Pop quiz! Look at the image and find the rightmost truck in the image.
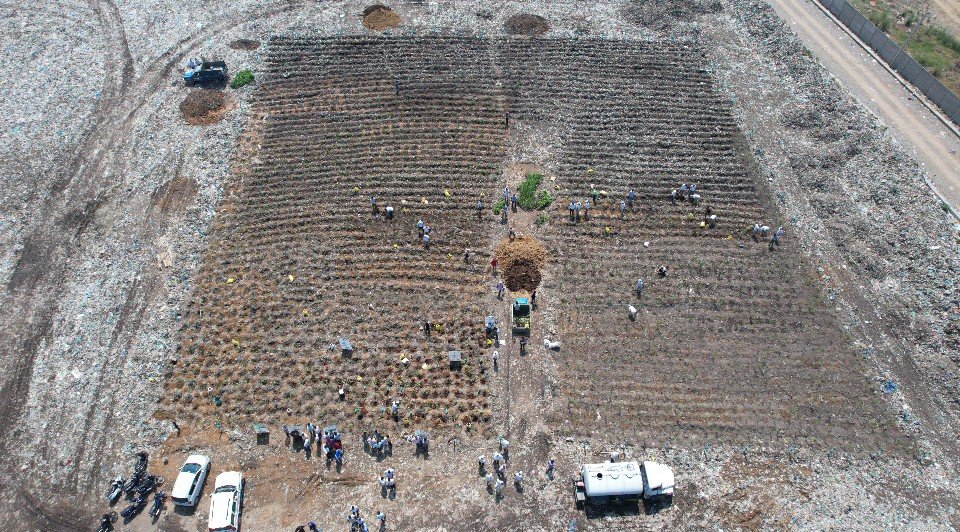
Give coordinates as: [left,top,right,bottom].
[574,458,677,505]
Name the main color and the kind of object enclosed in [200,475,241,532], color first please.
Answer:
white car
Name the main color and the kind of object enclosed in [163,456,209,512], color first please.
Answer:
white car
